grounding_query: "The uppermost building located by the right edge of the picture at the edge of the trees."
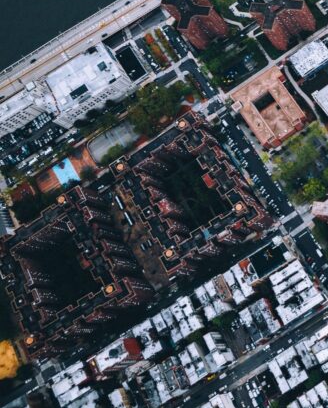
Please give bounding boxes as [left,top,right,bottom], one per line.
[250,0,317,50]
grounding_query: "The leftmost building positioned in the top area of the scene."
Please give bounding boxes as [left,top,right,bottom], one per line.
[0,82,67,146]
